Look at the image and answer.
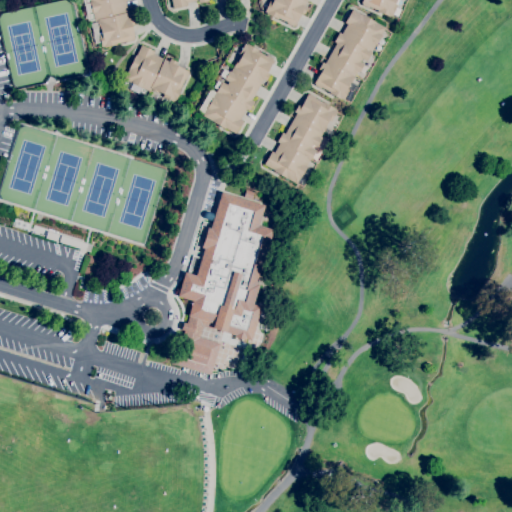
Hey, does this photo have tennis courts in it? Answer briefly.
Yes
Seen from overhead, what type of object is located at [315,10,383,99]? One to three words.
house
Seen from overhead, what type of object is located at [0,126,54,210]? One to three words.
tennis court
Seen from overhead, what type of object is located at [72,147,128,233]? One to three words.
tennis court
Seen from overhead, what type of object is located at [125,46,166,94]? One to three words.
house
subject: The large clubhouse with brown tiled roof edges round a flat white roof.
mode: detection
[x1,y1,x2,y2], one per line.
[180,192,274,360]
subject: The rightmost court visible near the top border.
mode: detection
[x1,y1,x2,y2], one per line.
[36,0,84,77]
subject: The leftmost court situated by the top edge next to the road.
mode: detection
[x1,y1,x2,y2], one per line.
[0,8,49,87]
